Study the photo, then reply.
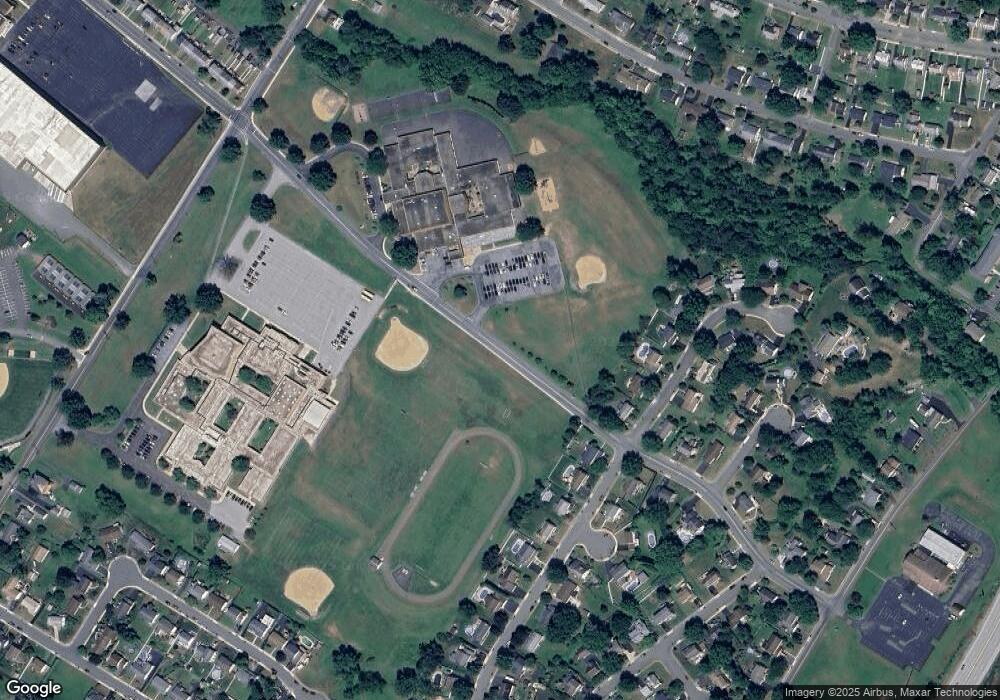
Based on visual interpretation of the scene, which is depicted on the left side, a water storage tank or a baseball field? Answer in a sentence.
It is a baseball field that can be seen on the left side.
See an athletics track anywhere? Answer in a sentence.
Yes, the photo shows an athletics track.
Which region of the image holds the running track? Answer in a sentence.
You can find the running track in the bottom area of the picture.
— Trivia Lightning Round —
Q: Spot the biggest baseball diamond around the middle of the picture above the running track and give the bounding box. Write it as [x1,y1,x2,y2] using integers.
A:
[376,307,430,373]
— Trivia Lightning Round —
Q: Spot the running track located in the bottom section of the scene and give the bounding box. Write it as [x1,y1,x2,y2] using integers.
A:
[381,422,525,604]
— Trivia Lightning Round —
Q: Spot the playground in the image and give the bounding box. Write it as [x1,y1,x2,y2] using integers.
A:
[537,178,559,211]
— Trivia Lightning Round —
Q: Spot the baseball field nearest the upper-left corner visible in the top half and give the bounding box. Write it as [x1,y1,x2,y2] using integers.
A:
[312,78,348,121]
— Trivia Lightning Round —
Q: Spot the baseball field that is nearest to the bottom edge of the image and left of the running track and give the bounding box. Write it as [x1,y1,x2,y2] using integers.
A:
[284,566,334,620]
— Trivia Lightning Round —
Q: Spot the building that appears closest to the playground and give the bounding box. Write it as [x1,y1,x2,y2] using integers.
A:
[382,129,523,265]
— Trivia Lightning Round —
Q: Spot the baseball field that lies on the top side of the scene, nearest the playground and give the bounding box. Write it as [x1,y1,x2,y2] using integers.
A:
[572,255,607,293]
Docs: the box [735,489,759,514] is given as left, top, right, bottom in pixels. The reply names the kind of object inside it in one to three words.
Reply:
house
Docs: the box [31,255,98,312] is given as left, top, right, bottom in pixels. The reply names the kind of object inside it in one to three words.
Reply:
building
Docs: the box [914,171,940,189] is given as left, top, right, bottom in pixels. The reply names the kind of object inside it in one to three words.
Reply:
house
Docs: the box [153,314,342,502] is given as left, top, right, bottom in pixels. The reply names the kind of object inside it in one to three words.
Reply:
building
